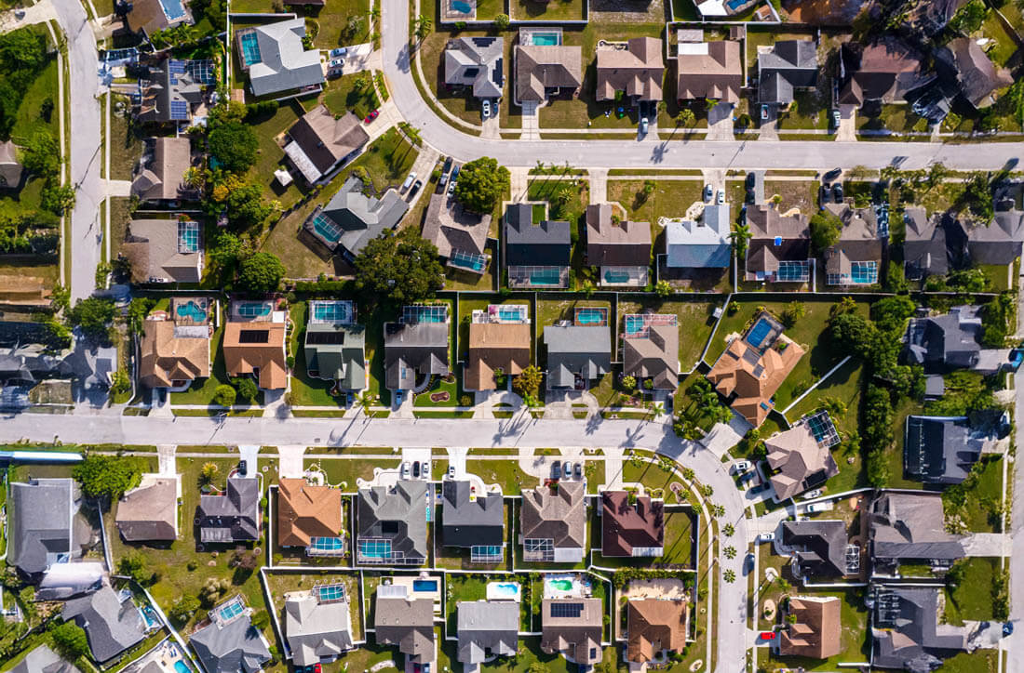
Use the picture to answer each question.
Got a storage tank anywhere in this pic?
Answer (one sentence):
No, there is no storage tank in the image.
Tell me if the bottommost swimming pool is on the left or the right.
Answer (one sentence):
The bottommost swimming pool is on the left side of the image.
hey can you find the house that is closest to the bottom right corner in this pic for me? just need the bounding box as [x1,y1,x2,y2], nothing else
[870,587,966,669]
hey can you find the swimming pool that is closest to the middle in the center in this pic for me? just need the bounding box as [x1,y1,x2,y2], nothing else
[472,305,527,324]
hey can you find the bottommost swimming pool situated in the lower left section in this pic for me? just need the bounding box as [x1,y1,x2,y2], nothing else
[145,637,201,673]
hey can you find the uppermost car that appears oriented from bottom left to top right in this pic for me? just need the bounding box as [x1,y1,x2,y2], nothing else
[365,109,379,124]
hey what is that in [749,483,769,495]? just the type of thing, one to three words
vehicle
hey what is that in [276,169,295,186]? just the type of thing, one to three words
gazebo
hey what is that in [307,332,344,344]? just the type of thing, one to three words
solar panel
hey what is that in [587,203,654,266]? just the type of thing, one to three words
house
